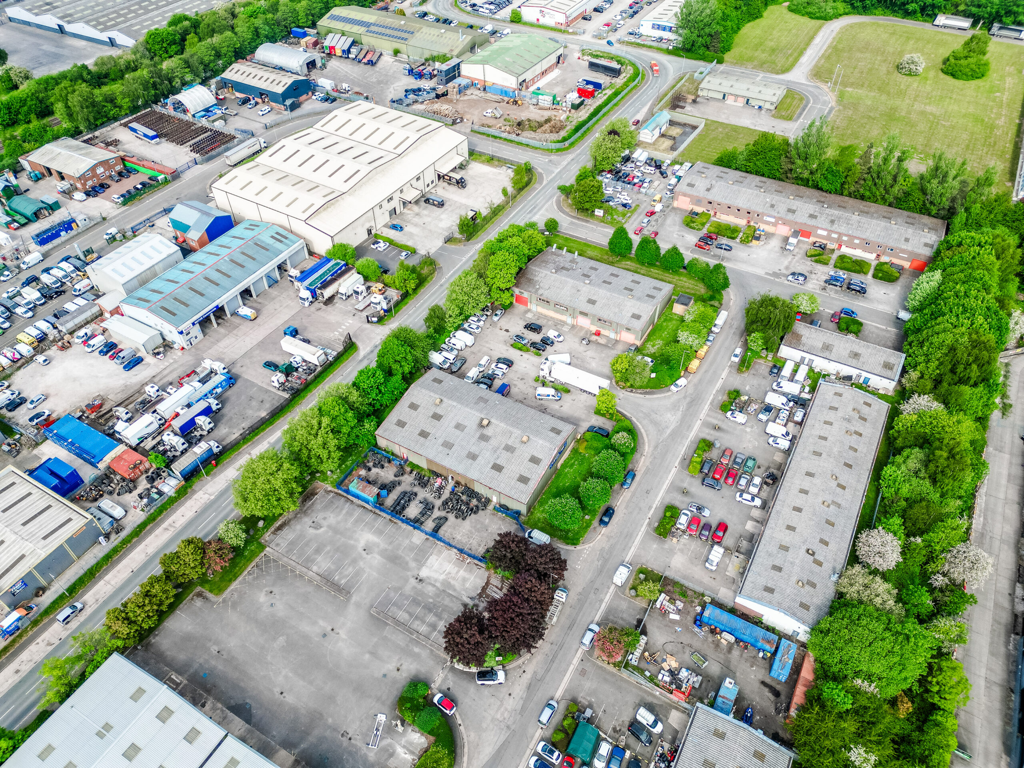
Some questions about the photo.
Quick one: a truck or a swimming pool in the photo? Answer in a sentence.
This aerial view contains a truck.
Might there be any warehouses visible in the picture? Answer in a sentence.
Yes, I can see a warehouse in this picture.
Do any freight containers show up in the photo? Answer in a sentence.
Yes, there's a freight container down there.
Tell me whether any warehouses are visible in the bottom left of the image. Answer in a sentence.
Yes, there is a warehouse in the bottom left of the image.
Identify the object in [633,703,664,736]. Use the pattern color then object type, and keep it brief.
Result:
white van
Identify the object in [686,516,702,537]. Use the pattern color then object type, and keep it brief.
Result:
red car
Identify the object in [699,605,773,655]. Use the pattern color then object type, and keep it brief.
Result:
blue shipping container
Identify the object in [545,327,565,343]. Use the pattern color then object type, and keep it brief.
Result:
white vehicle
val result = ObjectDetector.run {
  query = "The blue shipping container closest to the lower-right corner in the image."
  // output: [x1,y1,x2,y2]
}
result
[765,636,794,689]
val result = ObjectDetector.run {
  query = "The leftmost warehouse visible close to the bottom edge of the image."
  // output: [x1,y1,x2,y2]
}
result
[0,649,285,768]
